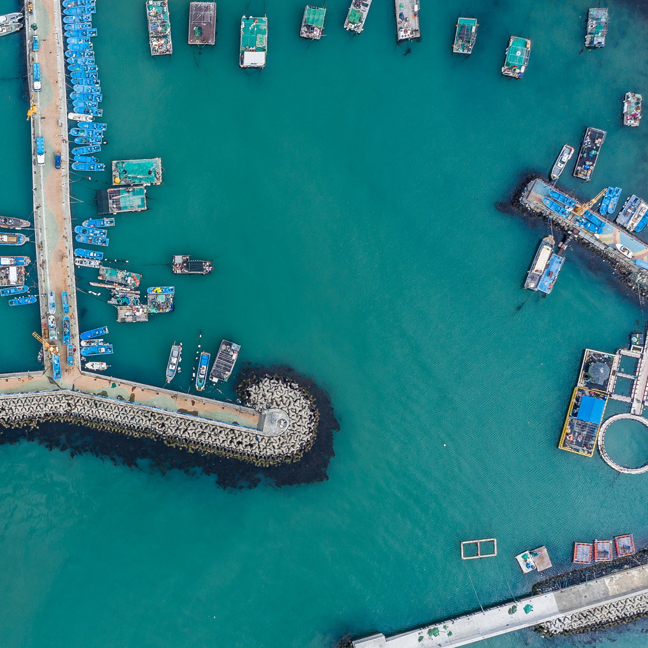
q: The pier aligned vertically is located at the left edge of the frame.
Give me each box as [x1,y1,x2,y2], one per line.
[25,0,80,395]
